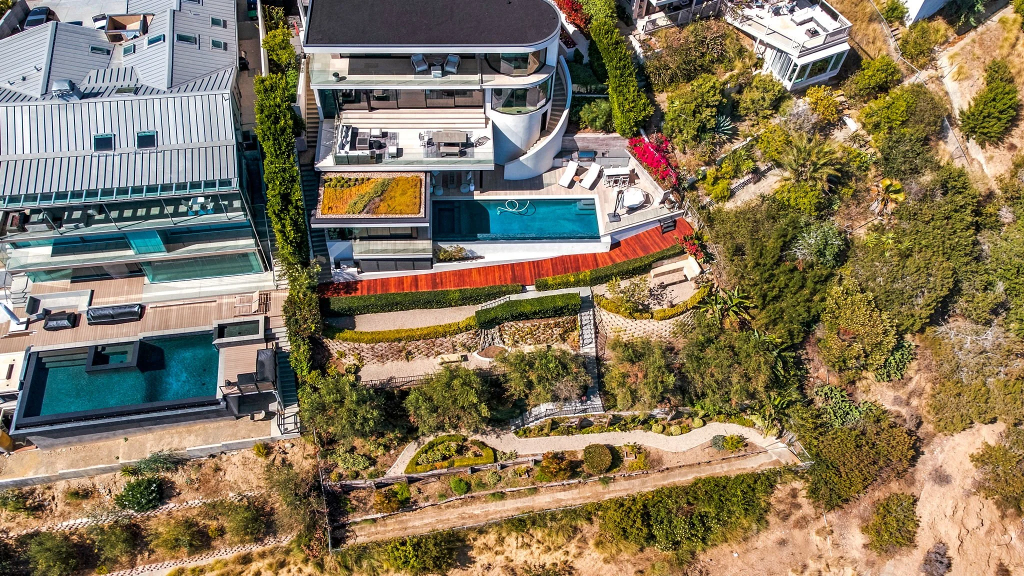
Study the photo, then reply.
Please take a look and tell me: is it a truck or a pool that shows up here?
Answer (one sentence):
There is a pool in the scene.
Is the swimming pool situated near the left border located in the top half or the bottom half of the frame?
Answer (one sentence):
Seen from above, the swimming pool situated near the left border lies in the bottom half of the view.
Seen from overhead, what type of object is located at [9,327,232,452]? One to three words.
swimming pool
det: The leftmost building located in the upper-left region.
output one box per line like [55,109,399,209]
[0,0,277,283]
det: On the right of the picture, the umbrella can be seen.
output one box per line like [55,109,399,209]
[607,186,626,223]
